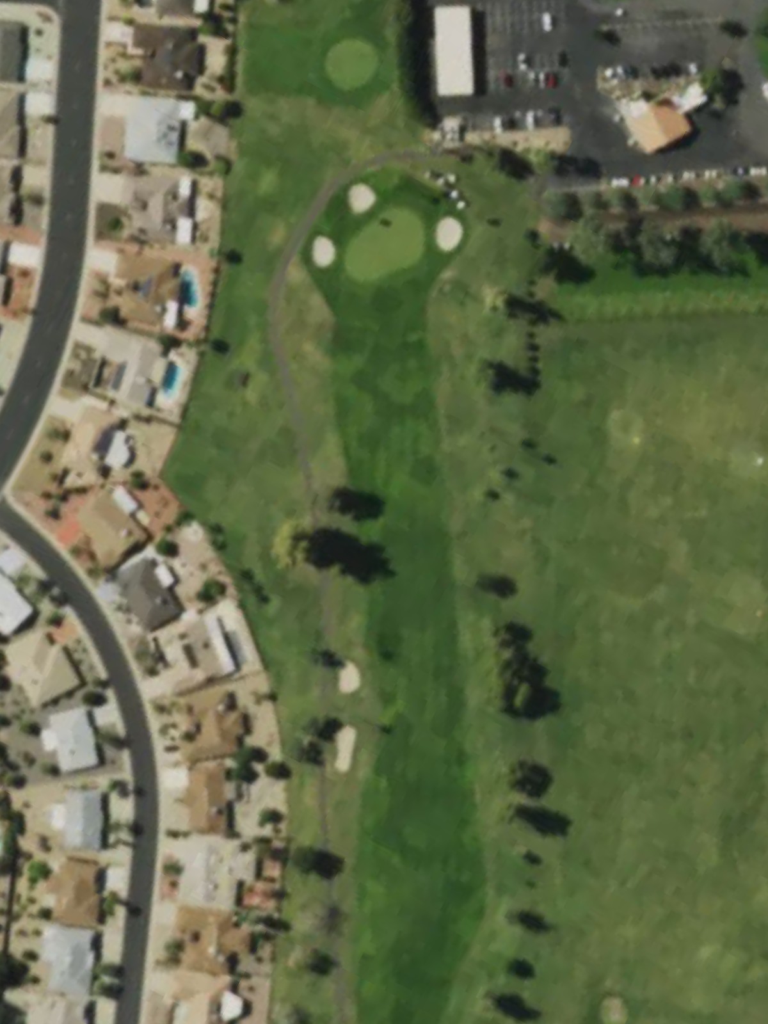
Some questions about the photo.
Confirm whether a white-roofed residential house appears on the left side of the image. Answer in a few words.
Yes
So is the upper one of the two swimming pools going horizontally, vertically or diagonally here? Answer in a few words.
vertically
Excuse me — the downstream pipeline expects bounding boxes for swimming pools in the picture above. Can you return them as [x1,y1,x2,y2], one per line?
[180,265,200,309]
[161,359,183,399]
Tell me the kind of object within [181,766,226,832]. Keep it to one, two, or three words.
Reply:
house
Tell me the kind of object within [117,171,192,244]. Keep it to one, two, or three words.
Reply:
house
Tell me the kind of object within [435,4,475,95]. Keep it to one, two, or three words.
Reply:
building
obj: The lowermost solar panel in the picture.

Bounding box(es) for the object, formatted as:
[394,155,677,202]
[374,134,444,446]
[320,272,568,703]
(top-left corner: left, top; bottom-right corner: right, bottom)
[90,426,113,454]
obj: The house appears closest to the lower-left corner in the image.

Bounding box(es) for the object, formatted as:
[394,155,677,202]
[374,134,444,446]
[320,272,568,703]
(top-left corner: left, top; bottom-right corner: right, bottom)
[27,996,88,1024]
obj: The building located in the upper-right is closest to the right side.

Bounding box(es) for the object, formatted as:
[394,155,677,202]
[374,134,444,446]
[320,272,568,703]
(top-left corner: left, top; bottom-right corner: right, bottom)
[625,83,707,154]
